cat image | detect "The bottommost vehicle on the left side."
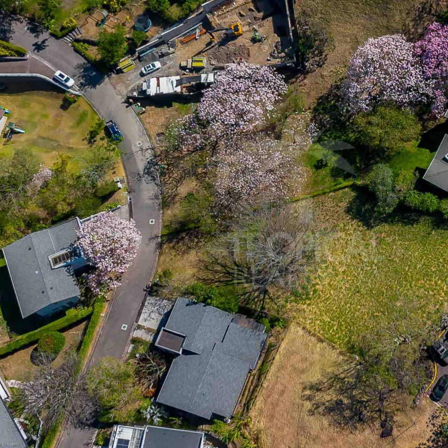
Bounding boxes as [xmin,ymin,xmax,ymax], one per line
[105,118,123,144]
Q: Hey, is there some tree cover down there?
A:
Yes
